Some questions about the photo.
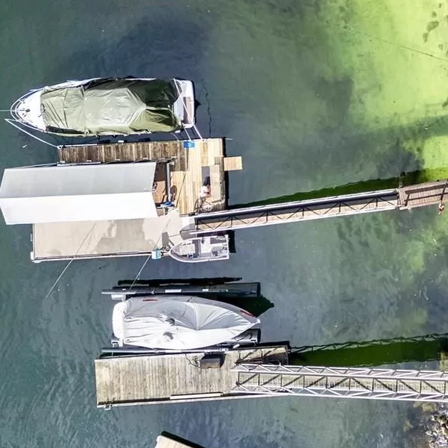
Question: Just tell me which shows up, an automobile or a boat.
boat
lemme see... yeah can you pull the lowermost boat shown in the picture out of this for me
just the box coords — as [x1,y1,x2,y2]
[102,301,253,356]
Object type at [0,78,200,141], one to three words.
boat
